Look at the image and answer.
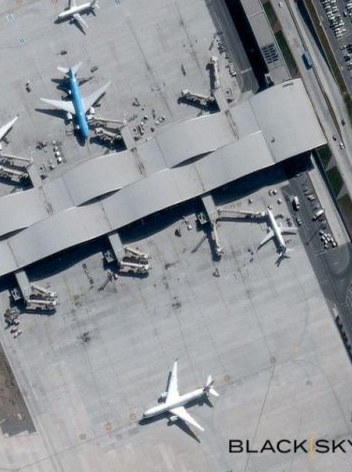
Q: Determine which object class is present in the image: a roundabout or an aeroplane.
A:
aeroplane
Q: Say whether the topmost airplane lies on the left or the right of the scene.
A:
left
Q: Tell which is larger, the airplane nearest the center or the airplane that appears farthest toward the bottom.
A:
the airplane that appears farthest toward the bottom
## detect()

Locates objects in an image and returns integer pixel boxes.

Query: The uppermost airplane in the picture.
[58,0,99,27]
